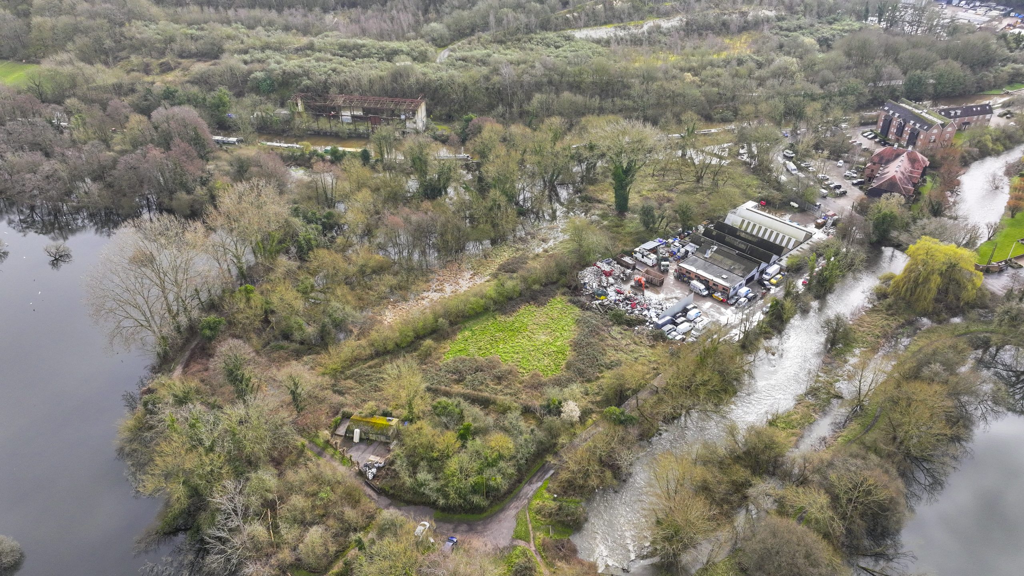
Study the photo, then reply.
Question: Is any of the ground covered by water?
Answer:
Yes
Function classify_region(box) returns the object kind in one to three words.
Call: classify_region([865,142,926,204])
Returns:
barn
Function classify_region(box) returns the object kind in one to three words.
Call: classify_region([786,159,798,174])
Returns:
vehicle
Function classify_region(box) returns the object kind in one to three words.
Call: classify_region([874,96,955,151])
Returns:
building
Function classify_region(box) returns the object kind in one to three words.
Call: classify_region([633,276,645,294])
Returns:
vehicle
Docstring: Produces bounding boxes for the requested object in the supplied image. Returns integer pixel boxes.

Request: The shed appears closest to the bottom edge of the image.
[345,410,401,443]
